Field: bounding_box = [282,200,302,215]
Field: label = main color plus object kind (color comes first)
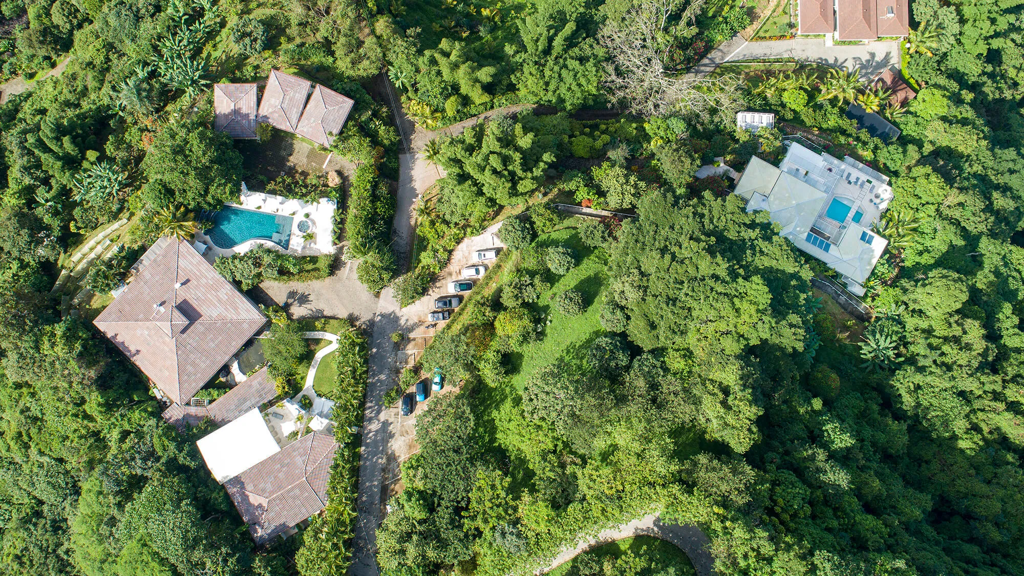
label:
white umbrella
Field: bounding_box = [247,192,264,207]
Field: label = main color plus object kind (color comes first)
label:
white umbrella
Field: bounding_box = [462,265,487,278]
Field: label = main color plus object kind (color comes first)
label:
white vehicle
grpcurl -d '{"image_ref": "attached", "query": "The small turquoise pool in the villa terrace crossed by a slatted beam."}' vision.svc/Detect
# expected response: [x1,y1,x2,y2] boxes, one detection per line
[822,193,867,227]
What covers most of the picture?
trees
